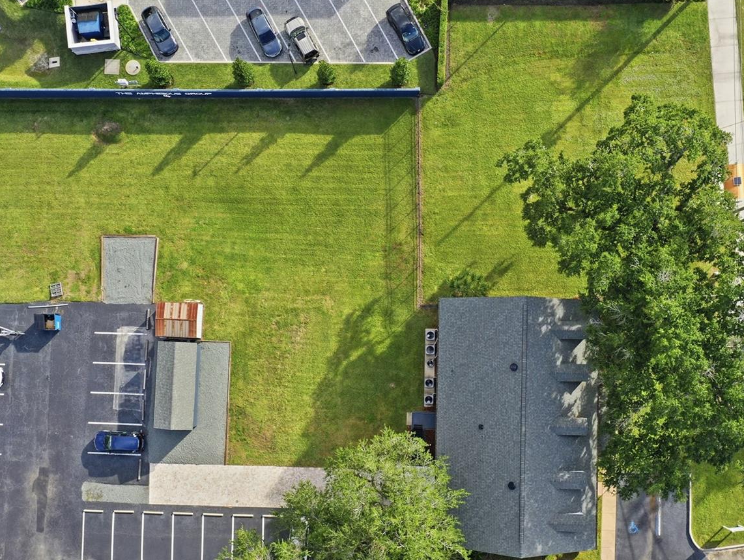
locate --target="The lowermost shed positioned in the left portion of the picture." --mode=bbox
[153,342,204,436]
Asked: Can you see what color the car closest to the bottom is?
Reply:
blue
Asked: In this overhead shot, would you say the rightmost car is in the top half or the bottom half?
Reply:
top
